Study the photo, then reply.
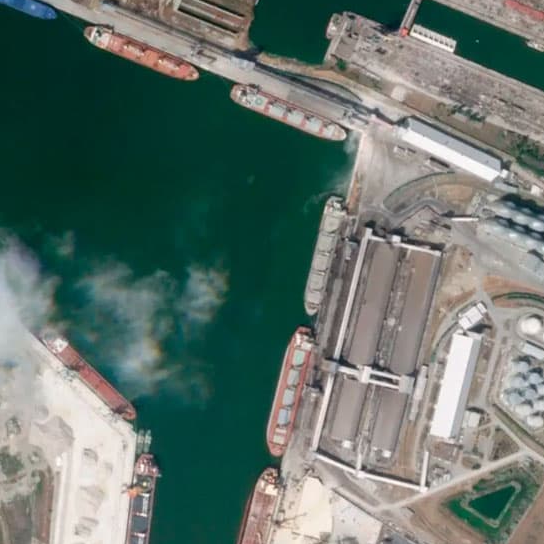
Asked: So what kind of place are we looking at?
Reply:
port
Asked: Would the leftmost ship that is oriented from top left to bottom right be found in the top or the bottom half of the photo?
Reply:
bottom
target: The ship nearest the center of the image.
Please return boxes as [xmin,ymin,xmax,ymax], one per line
[305,195,346,316]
